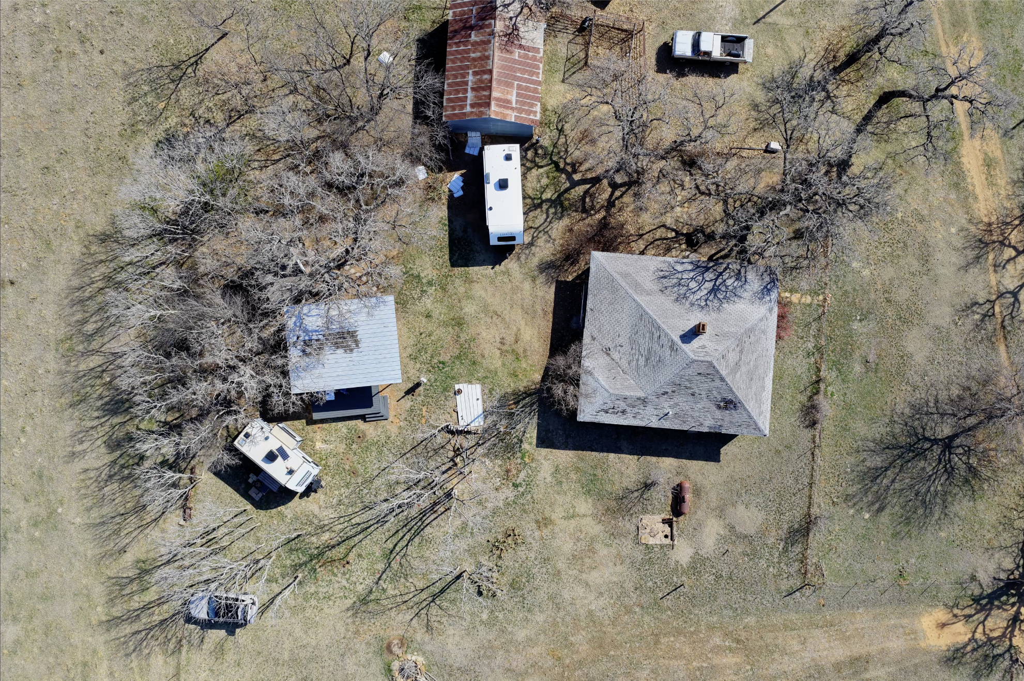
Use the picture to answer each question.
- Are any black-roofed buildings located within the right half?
No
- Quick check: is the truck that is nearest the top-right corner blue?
No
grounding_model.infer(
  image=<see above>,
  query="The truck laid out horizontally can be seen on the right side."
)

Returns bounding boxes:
[667,26,754,66]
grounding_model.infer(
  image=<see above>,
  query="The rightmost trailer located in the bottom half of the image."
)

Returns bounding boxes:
[234,411,338,494]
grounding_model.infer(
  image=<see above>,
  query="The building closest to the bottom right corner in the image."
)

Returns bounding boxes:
[576,250,779,438]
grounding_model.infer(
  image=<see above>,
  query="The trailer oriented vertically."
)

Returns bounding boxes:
[482,144,524,260]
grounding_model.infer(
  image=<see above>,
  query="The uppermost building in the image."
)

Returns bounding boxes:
[443,0,546,139]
